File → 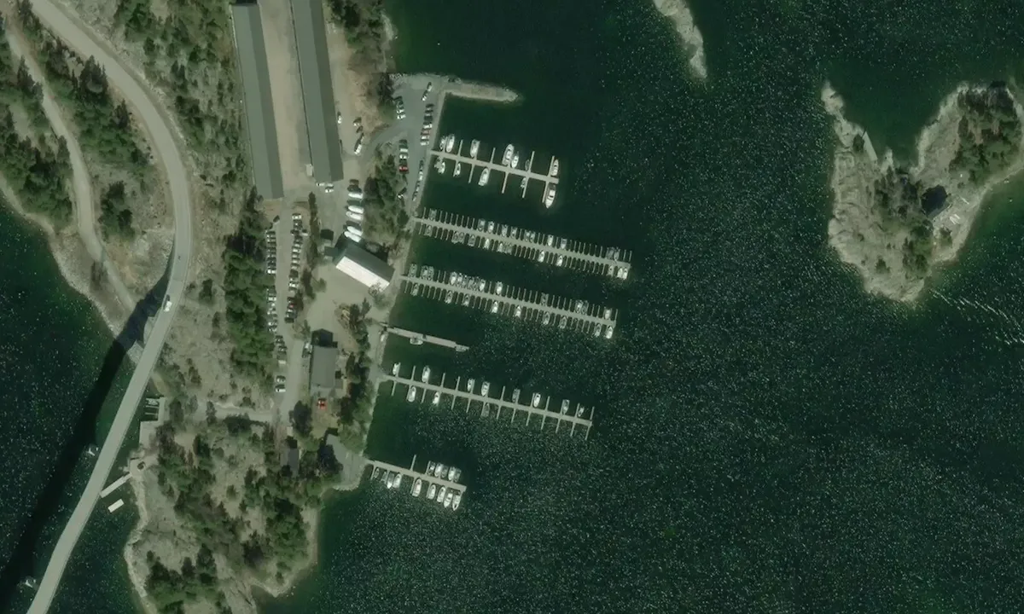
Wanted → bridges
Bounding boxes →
[24,238,190,614]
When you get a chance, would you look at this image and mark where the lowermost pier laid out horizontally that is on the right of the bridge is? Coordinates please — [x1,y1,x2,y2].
[366,455,467,502]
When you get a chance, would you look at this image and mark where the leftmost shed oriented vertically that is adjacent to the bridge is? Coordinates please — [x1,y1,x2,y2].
[232,3,284,199]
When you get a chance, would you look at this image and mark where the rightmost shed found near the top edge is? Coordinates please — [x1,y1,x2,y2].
[292,0,344,182]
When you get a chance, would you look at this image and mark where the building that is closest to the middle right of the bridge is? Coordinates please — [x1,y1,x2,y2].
[335,243,395,294]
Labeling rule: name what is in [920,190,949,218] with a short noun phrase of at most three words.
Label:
house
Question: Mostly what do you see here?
water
